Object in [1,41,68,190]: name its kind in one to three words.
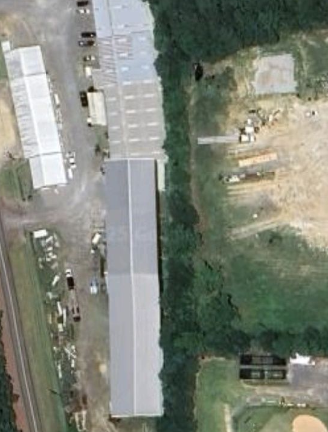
building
